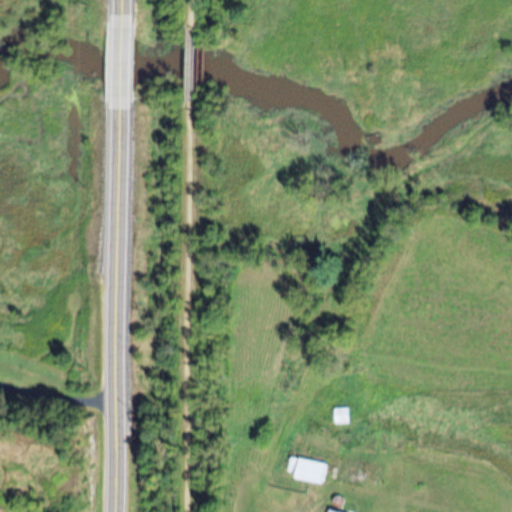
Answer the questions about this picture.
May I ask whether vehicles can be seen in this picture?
No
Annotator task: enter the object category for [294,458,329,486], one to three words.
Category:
house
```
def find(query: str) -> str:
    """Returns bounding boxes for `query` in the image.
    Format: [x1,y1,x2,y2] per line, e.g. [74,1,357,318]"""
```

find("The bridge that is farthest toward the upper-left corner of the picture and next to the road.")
[105,14,135,110]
